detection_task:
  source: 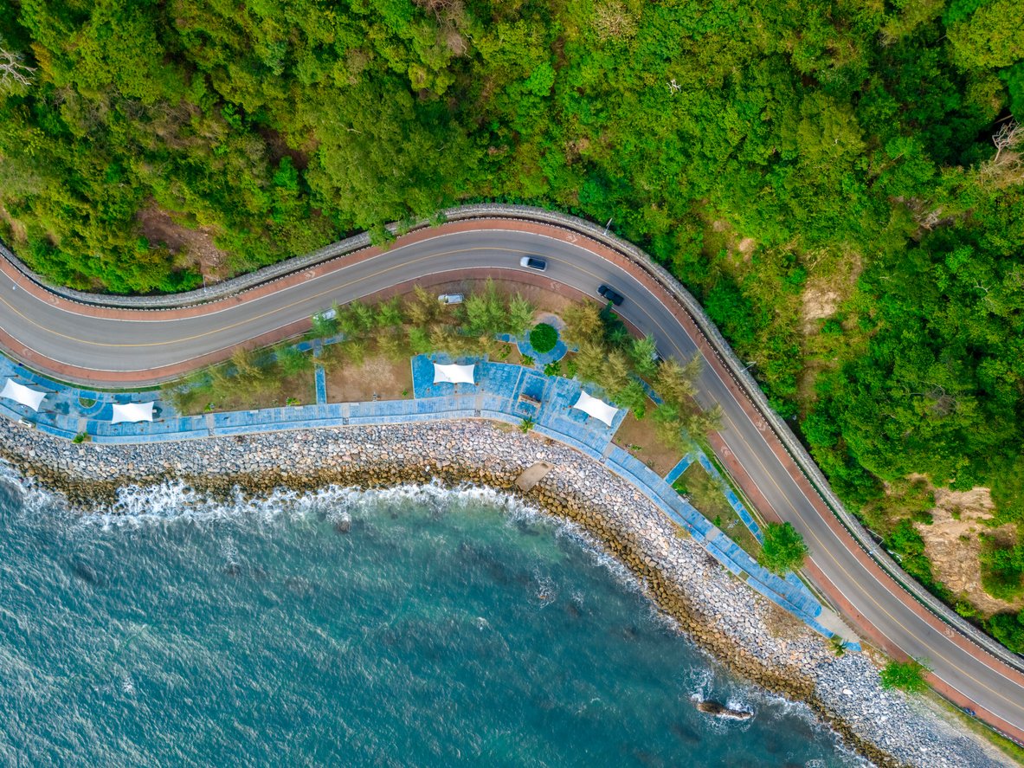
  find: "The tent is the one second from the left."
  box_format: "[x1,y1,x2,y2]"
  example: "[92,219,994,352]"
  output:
[109,397,167,427]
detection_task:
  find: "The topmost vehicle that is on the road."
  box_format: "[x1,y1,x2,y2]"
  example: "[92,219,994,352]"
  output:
[520,255,548,271]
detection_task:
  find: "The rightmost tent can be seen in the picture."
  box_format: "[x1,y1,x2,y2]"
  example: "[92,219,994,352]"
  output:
[567,385,623,431]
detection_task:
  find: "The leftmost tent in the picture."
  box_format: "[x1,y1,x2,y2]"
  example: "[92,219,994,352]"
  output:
[0,373,62,416]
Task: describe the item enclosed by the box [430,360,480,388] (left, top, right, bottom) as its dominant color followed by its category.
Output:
white tent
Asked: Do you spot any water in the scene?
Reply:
Yes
